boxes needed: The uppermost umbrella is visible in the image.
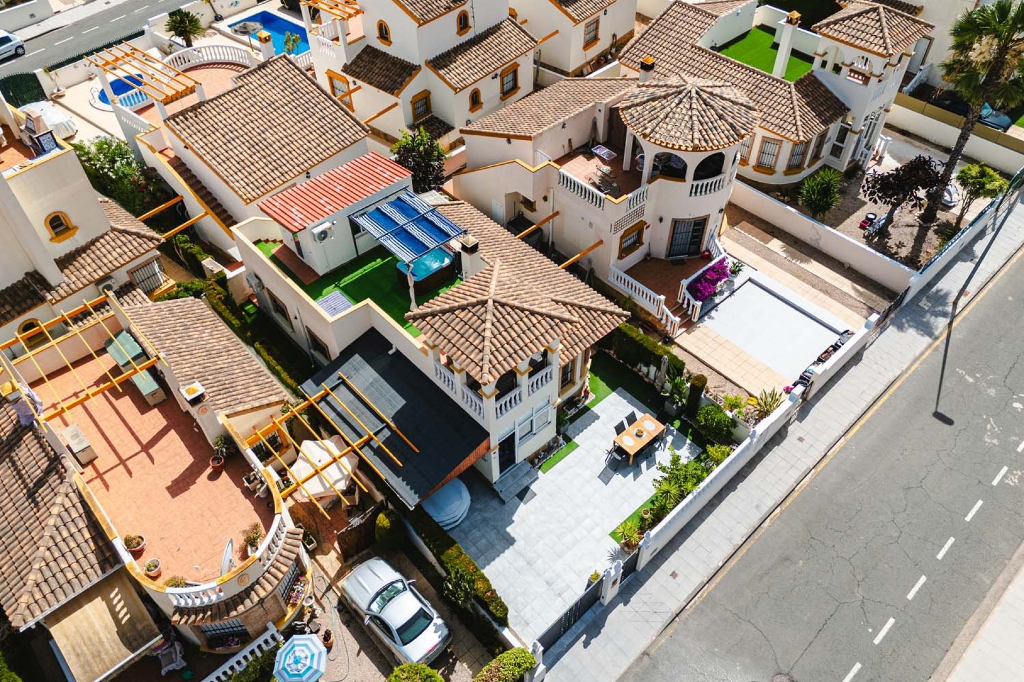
[232,14,262,48]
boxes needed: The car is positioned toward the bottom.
[342,556,460,671]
